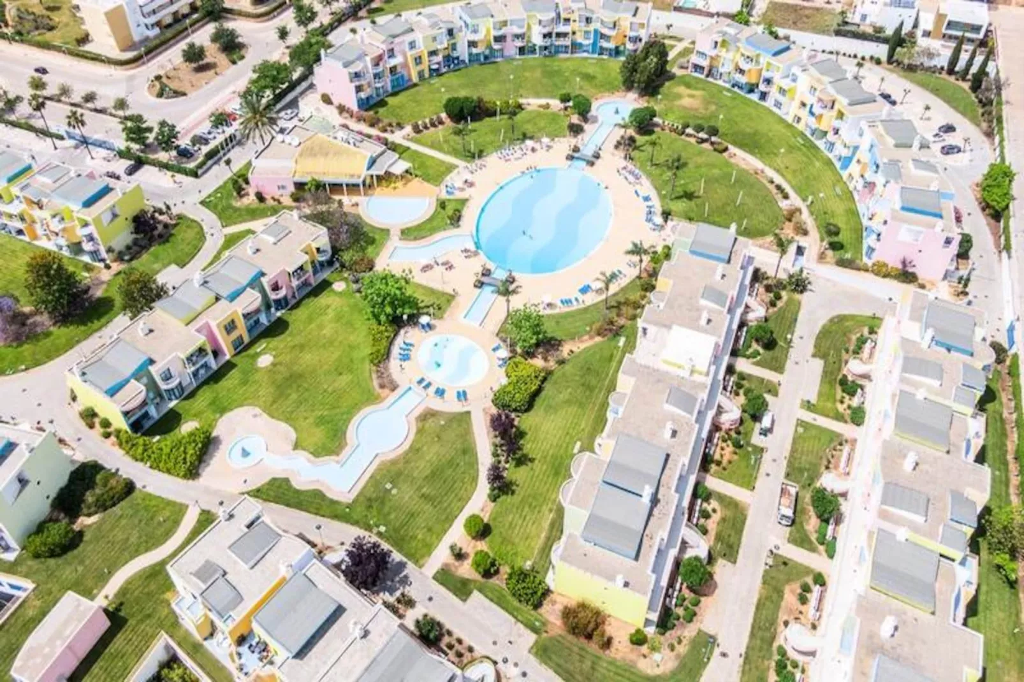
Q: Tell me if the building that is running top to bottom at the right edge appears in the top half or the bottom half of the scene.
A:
bottom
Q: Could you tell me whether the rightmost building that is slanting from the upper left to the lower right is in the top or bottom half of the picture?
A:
top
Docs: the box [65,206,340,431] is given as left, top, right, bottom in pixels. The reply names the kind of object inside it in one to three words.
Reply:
building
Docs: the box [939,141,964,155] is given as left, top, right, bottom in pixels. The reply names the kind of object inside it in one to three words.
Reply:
car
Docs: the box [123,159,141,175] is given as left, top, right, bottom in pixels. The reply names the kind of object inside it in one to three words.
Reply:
car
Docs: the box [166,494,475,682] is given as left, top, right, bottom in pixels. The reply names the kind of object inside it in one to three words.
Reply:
building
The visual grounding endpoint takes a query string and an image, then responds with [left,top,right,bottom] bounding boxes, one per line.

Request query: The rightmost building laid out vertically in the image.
[805,288,997,682]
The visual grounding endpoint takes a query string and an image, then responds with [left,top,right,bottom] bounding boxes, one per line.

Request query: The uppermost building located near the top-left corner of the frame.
[89,0,205,51]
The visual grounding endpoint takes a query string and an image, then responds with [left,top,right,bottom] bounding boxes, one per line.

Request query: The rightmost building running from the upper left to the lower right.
[687,11,961,274]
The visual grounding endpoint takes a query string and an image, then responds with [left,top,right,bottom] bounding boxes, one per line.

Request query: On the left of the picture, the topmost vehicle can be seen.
[29,62,51,75]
